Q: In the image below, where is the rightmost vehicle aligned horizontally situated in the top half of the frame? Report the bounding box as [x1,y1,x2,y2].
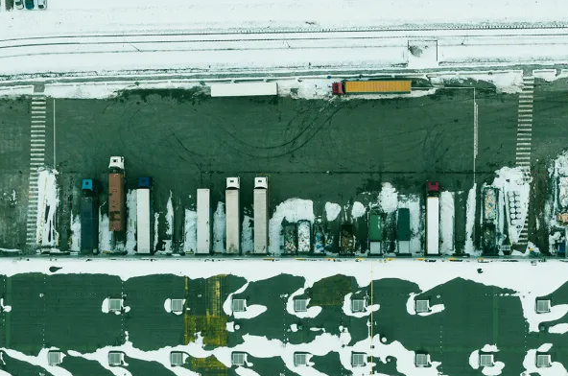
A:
[334,80,412,96]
